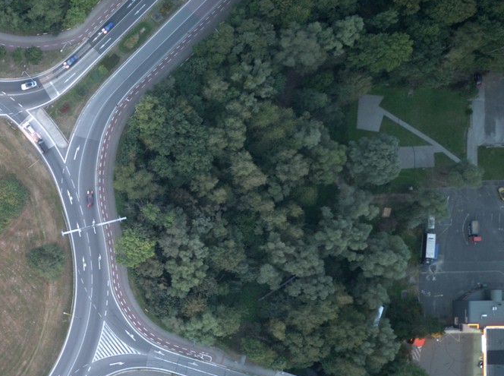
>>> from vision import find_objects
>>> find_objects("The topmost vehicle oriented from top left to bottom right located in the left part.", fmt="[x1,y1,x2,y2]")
[23,120,36,135]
